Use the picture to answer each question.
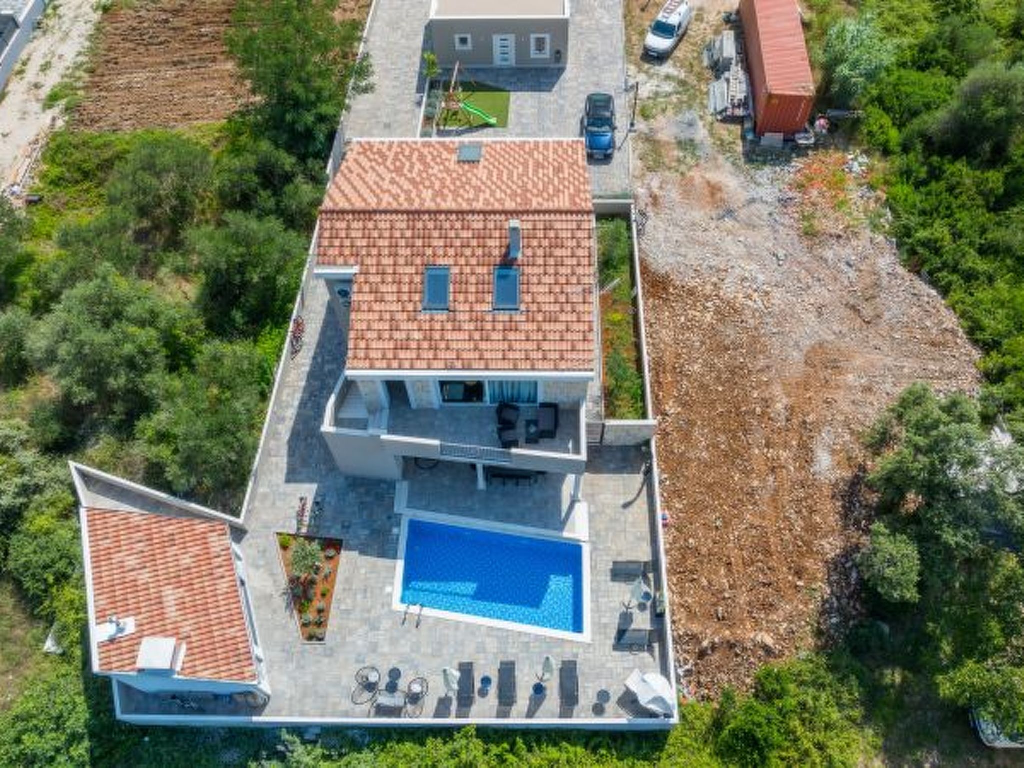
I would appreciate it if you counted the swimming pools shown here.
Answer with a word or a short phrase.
one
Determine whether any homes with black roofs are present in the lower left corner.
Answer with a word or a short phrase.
No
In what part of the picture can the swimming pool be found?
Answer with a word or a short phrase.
bottom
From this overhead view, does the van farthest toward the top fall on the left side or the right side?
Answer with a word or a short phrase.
right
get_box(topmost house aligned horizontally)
[432,0,573,66]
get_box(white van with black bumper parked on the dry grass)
[640,0,694,64]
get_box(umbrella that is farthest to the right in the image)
[622,575,642,612]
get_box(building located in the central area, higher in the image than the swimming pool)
[312,135,599,543]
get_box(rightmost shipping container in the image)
[738,0,822,134]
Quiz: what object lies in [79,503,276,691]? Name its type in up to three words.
house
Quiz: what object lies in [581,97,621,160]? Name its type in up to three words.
car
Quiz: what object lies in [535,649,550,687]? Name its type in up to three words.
umbrella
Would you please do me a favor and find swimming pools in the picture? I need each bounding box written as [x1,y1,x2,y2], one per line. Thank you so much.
[386,514,594,644]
